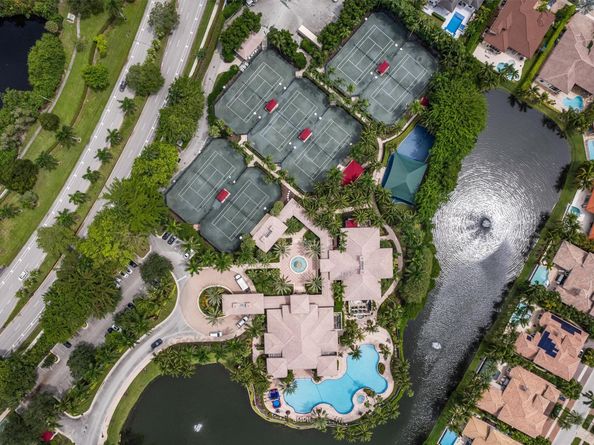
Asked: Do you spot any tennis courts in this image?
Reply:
Yes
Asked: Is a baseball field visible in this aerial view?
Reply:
No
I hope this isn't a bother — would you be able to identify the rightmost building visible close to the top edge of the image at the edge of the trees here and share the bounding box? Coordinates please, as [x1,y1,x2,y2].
[534,13,594,97]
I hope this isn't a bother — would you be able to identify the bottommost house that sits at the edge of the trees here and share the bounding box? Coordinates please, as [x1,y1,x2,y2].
[462,416,513,445]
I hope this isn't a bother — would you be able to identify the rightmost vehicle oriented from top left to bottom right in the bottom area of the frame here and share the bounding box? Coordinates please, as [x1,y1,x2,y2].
[234,274,249,292]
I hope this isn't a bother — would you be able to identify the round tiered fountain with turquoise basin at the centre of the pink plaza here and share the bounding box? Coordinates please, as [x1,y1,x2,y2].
[291,256,307,273]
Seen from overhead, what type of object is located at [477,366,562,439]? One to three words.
house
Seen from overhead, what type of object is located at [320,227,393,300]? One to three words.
building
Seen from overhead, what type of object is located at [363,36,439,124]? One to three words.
tennis court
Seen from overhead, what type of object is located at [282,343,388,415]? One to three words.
swimming pool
